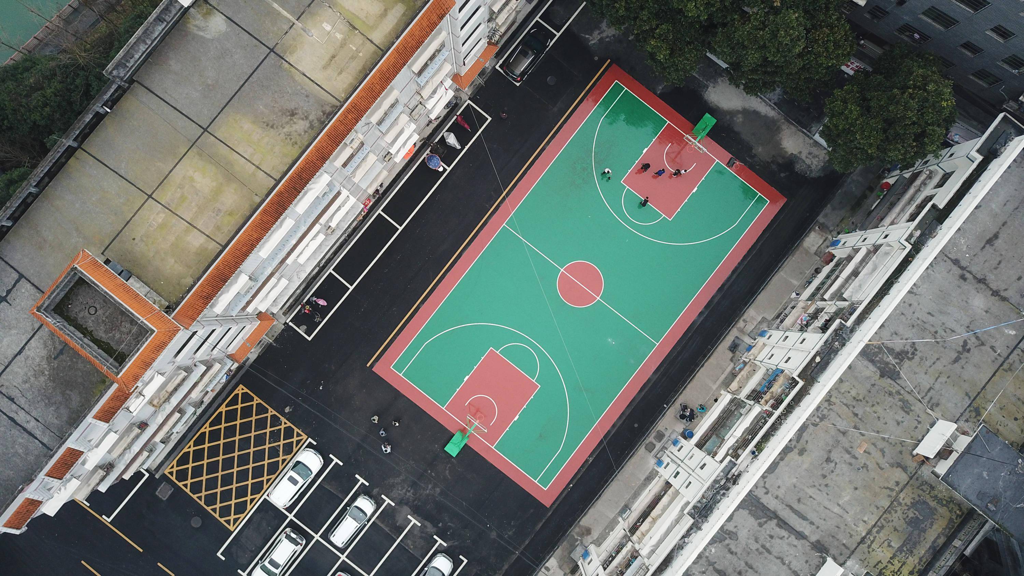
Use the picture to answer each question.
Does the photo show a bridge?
No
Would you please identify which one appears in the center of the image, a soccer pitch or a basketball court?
basketball court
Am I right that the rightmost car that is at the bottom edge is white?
Yes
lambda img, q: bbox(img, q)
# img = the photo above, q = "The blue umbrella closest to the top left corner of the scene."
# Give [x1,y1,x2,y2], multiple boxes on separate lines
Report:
[425,153,442,170]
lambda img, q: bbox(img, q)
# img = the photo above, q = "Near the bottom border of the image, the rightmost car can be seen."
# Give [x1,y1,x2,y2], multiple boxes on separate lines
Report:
[418,553,452,576]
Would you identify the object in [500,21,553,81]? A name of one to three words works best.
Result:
car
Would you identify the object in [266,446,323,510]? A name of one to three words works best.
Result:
car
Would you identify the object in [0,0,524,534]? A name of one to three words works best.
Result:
building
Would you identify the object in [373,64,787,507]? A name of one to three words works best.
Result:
basketball court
